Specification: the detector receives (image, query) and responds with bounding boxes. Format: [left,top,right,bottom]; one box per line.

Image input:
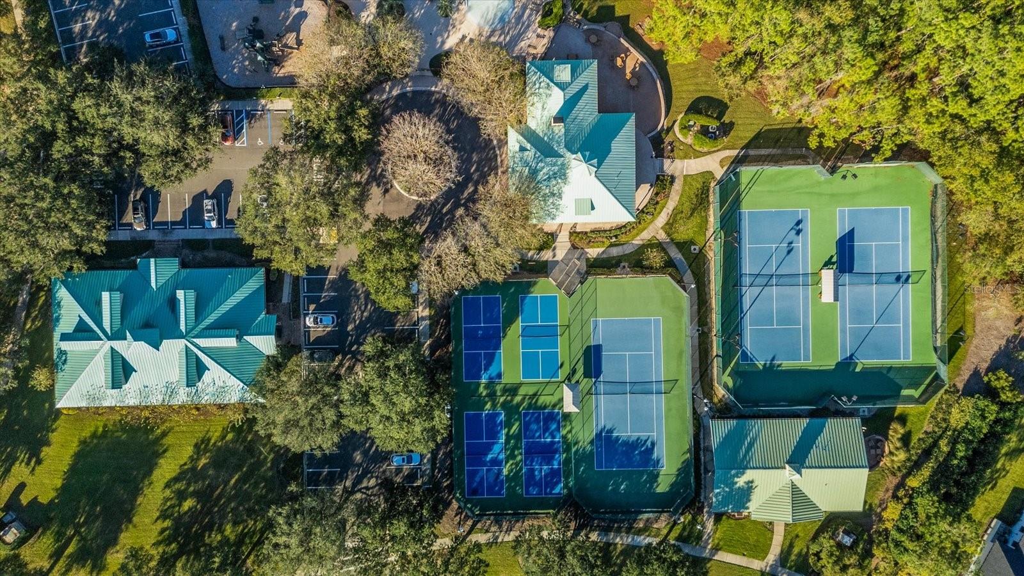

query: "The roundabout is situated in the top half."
[350,69,506,230]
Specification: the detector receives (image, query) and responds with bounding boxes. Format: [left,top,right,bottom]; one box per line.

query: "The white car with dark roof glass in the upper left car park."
[143,27,179,46]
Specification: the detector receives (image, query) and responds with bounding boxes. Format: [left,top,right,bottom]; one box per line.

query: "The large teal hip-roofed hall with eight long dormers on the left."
[52,256,283,409]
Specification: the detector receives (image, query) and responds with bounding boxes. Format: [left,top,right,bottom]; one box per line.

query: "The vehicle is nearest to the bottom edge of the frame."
[389,452,421,467]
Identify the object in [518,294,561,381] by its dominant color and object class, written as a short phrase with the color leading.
blue sports court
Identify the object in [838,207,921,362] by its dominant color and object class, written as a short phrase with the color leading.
blue tennis court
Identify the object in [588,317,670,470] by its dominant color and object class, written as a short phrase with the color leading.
blue tennis court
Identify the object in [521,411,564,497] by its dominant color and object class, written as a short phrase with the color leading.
blue sports court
